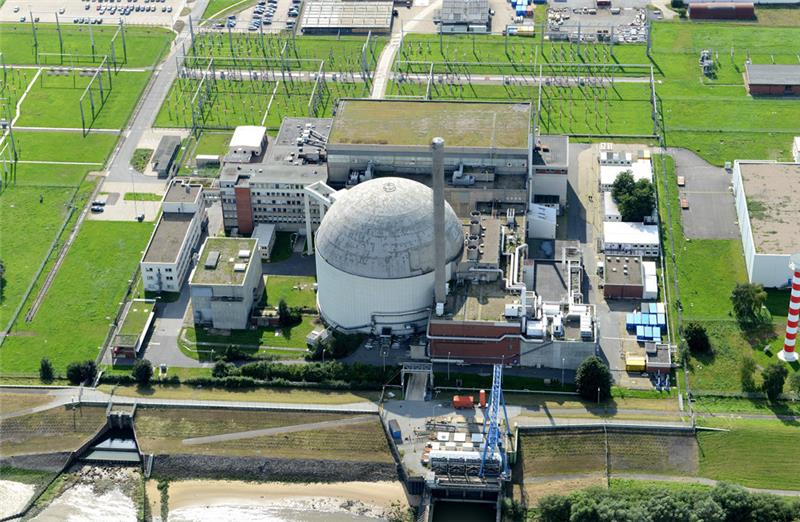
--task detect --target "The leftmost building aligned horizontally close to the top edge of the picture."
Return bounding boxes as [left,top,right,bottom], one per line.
[300,0,395,38]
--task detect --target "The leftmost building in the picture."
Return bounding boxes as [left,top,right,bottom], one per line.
[104,297,159,358]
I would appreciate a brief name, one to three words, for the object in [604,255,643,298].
building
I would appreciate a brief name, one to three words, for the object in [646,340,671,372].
house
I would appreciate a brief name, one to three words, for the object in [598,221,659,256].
building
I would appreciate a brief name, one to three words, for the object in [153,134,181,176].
shed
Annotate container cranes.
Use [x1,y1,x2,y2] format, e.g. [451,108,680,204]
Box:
[480,361,512,477]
